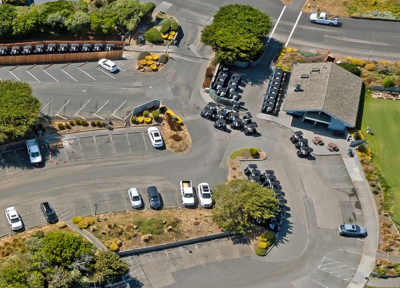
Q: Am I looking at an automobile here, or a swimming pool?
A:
automobile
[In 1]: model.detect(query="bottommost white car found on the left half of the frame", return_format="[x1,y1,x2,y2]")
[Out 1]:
[5,207,22,230]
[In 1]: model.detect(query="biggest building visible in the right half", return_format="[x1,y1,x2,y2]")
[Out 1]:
[283,61,362,137]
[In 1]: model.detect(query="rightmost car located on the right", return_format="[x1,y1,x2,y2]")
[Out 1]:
[338,224,366,238]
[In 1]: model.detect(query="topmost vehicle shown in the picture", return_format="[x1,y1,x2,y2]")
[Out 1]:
[311,14,337,27]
